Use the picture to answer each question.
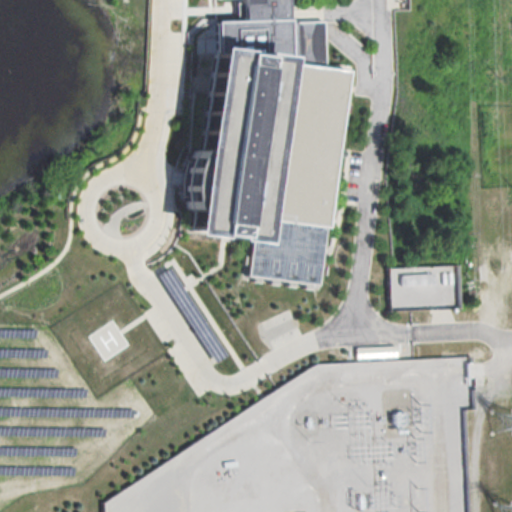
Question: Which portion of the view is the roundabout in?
left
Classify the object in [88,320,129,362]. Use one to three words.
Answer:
helipad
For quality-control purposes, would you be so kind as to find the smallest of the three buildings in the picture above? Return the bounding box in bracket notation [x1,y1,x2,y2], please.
[356,346,398,360]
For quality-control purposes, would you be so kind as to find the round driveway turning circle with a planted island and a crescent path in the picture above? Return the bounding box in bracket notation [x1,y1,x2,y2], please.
[83,174,159,250]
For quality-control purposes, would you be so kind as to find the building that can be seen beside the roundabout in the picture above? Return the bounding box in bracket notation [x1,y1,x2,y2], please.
[184,0,352,290]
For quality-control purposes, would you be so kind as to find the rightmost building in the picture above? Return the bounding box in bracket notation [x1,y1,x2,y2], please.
[390,266,462,310]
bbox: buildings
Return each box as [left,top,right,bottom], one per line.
[184,0,352,290]
[356,346,398,360]
[390,266,462,310]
